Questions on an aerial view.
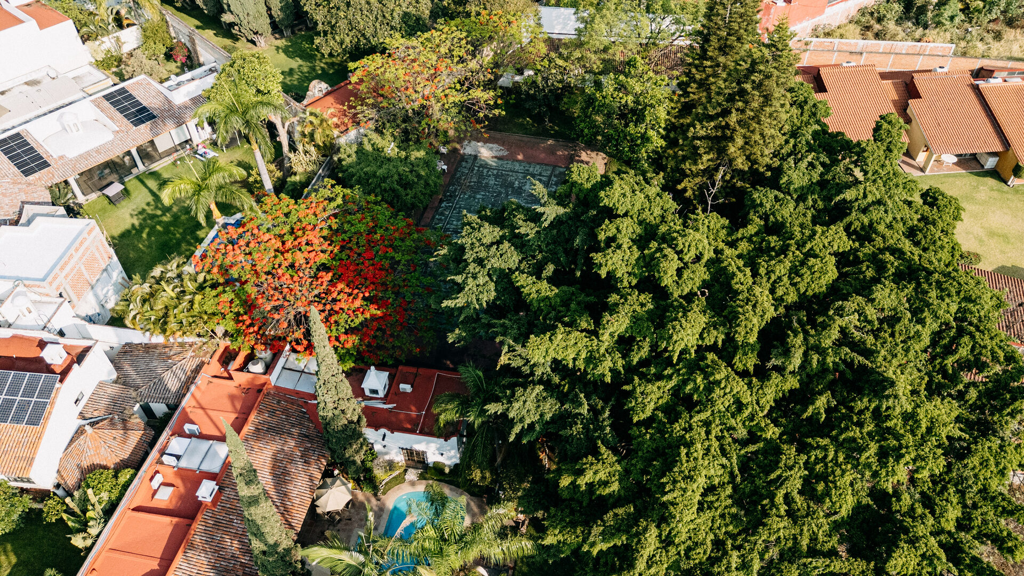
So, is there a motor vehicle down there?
No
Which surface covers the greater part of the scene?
trees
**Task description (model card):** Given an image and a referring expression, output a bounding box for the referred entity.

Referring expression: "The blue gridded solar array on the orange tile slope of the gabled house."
[0,370,56,424]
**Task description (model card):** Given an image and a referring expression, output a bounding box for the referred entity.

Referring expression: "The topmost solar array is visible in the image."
[102,85,157,124]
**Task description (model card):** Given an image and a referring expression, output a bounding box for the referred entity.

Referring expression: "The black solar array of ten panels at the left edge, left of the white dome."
[0,130,50,174]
